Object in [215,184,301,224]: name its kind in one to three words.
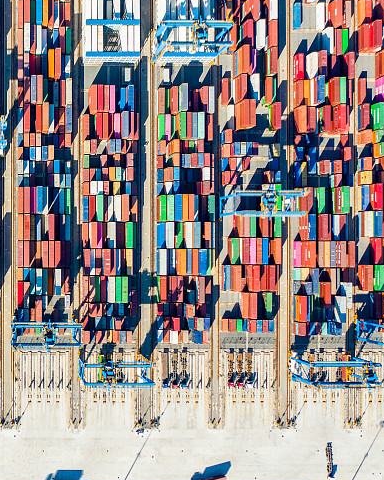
container crane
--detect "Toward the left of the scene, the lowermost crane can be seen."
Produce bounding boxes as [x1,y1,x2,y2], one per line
[78,348,156,394]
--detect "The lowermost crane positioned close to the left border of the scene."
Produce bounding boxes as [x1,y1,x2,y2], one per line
[12,310,85,353]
